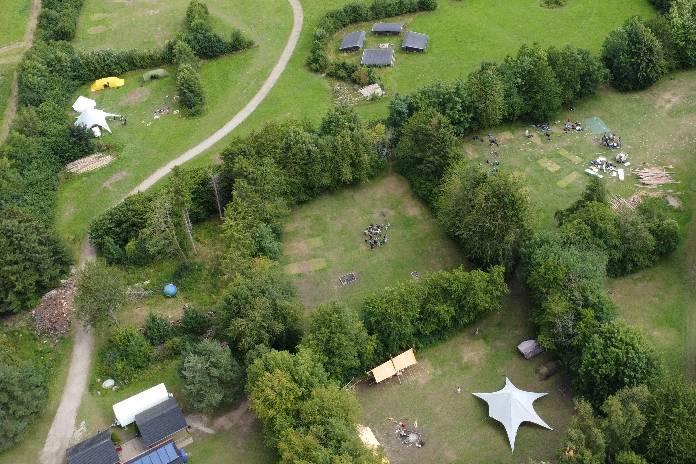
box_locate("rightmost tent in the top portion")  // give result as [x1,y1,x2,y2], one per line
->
[139,67,172,88]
